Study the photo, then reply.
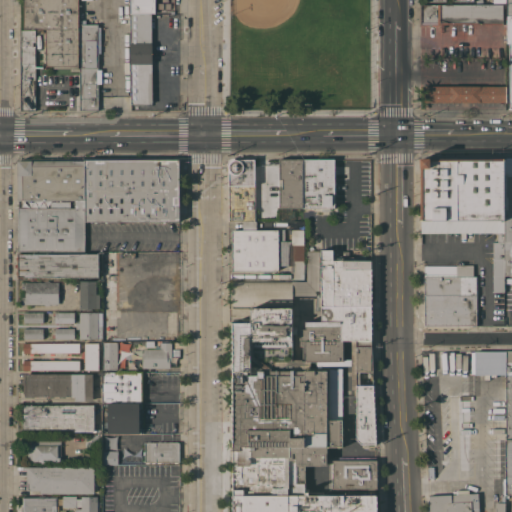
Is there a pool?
No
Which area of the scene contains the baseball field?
top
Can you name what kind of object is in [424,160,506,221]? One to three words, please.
building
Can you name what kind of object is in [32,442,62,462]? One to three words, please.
house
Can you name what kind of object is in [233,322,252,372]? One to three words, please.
building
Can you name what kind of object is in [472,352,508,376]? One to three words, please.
shed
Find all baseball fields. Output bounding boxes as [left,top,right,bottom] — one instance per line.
[232,0,371,109]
